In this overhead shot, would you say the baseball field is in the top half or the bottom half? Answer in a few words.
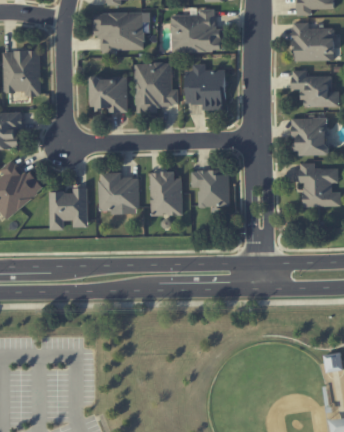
bottom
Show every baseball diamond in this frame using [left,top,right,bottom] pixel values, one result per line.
[208,342,330,432]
